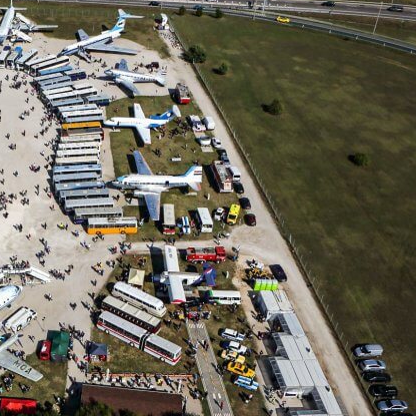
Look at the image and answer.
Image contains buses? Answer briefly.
Yes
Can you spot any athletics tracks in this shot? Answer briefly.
No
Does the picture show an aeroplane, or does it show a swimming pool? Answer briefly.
aeroplane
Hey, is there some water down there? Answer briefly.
No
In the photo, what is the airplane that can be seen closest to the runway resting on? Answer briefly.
grass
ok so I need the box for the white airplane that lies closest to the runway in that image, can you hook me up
[151,244,219,302]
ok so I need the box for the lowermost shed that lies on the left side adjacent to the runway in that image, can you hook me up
[82,384,183,416]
